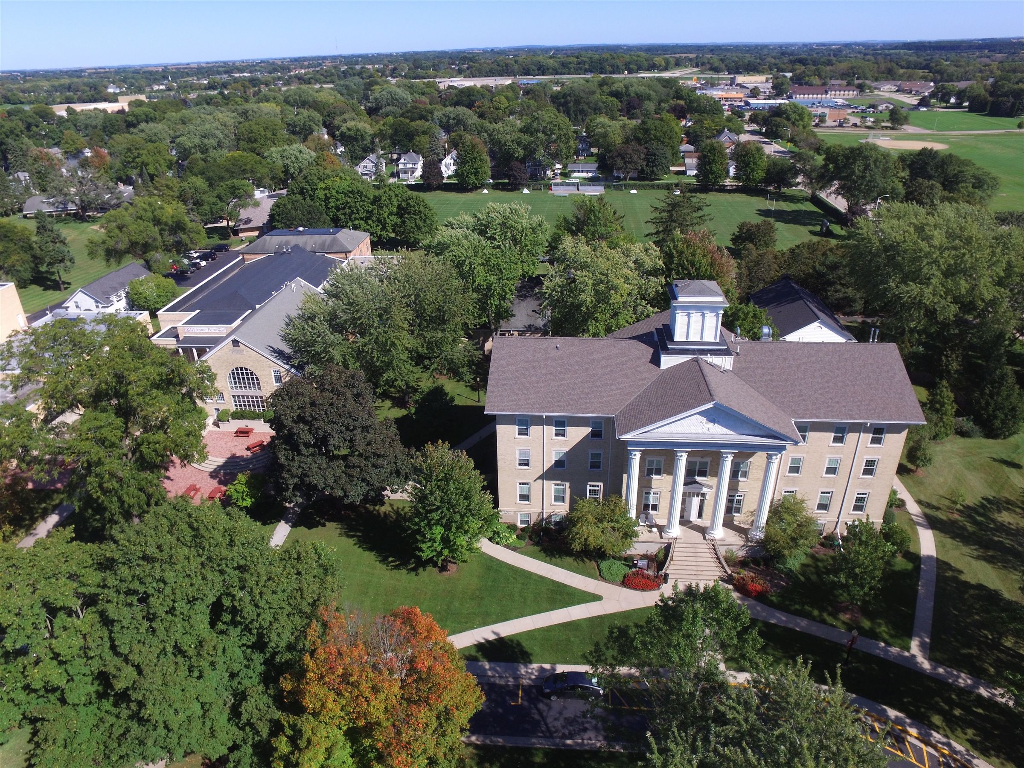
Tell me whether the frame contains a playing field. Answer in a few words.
Yes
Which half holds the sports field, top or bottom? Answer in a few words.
top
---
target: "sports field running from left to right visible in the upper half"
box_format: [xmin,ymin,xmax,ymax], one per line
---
[346,193,883,281]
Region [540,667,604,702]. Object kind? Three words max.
car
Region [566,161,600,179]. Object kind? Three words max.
house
